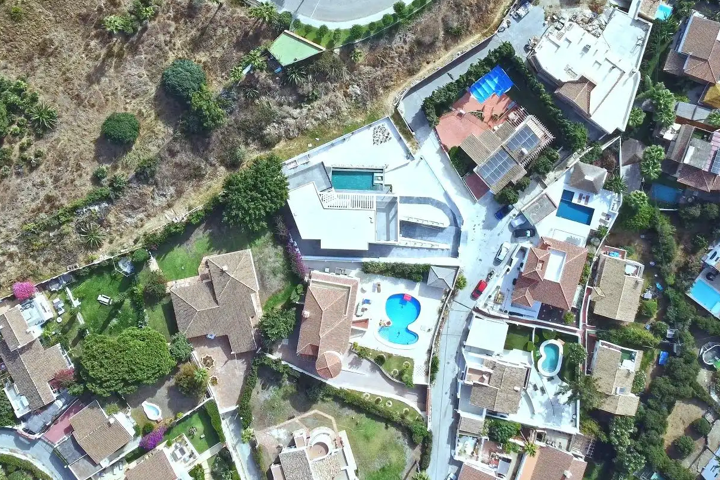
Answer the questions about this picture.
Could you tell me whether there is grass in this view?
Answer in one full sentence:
Yes, the picture does contain grass.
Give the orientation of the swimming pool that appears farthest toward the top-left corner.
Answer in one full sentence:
In this picture, the swimming pool that appears farthest toward the top-left corner is oriented horizontally.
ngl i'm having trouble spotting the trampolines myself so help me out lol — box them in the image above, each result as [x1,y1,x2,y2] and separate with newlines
[116,256,135,274]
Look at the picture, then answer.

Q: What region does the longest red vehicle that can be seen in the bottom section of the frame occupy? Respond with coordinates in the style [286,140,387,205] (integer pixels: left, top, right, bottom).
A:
[471,279,488,299]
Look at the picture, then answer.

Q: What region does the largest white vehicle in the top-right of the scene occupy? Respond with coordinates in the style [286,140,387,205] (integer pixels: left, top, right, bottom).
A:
[515,1,532,18]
